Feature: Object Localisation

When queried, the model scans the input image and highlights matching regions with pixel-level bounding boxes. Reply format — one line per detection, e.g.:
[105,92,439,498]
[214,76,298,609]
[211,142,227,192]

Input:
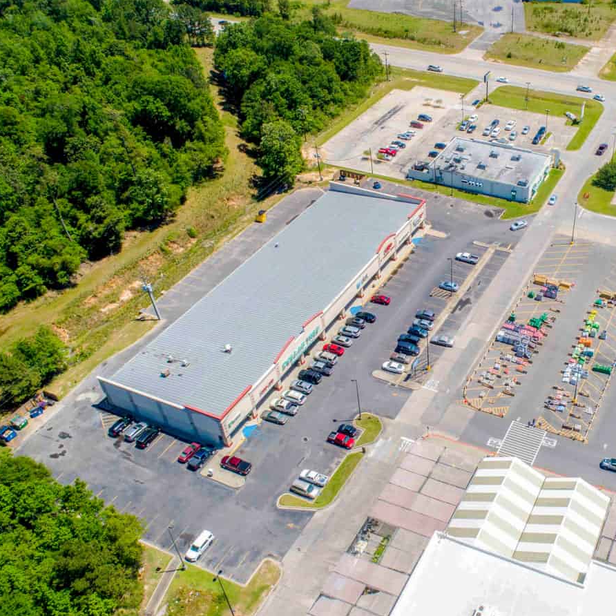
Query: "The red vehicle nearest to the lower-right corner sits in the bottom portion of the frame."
[325,430,357,450]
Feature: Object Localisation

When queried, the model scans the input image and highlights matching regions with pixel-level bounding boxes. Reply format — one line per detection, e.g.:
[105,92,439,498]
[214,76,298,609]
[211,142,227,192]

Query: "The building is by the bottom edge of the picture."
[393,455,616,616]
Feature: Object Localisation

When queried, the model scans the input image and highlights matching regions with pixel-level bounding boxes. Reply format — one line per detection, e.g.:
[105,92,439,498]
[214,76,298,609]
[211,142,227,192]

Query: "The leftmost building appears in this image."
[97,180,428,454]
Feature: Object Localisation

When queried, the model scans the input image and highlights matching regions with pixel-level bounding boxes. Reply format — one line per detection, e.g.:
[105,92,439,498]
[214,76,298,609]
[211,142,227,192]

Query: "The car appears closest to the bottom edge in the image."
[186,531,214,561]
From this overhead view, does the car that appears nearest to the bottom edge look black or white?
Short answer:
white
